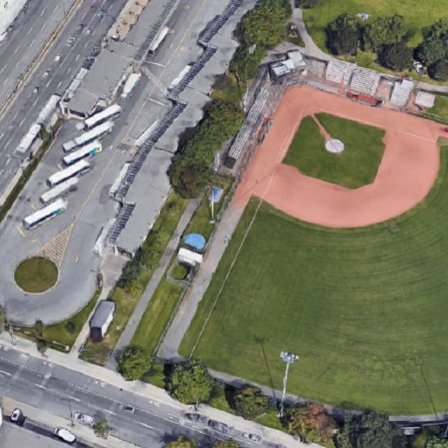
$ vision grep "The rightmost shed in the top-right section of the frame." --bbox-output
[414,89,437,109]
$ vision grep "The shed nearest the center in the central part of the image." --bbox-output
[177,247,203,268]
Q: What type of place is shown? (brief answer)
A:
sports ground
